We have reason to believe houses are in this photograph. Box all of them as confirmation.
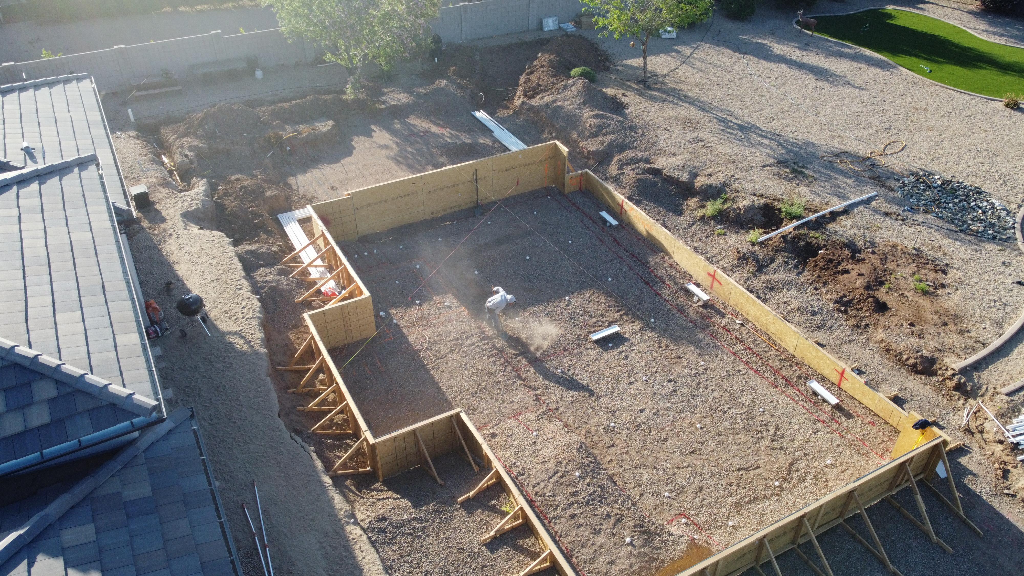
[0,70,250,576]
